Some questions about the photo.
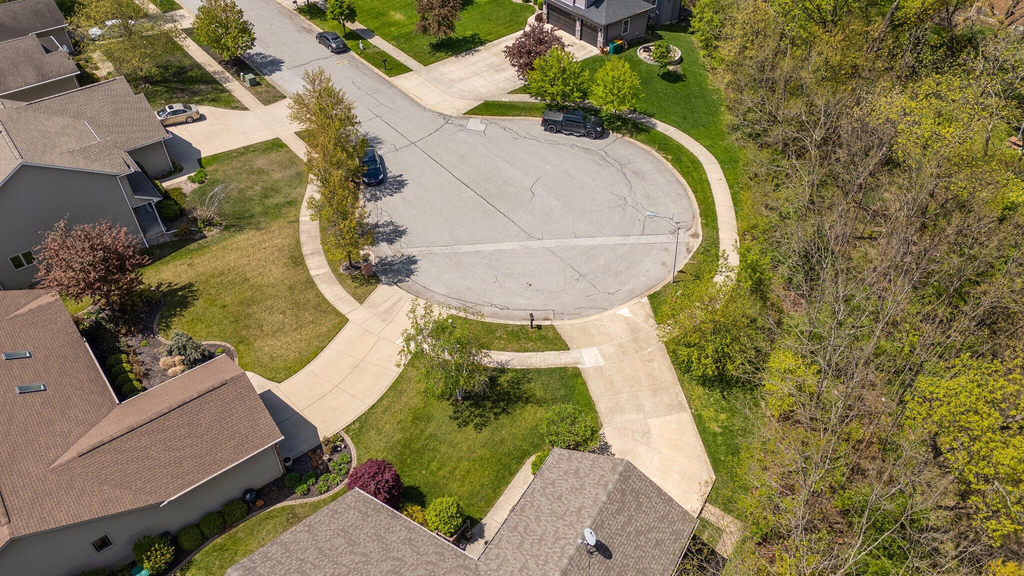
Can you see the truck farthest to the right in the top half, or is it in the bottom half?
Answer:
top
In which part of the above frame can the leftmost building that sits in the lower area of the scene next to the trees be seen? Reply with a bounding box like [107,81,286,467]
[0,289,286,576]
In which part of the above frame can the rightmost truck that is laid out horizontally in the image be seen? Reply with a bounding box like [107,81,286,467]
[541,107,606,139]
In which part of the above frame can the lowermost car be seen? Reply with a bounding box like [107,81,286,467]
[360,146,385,182]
